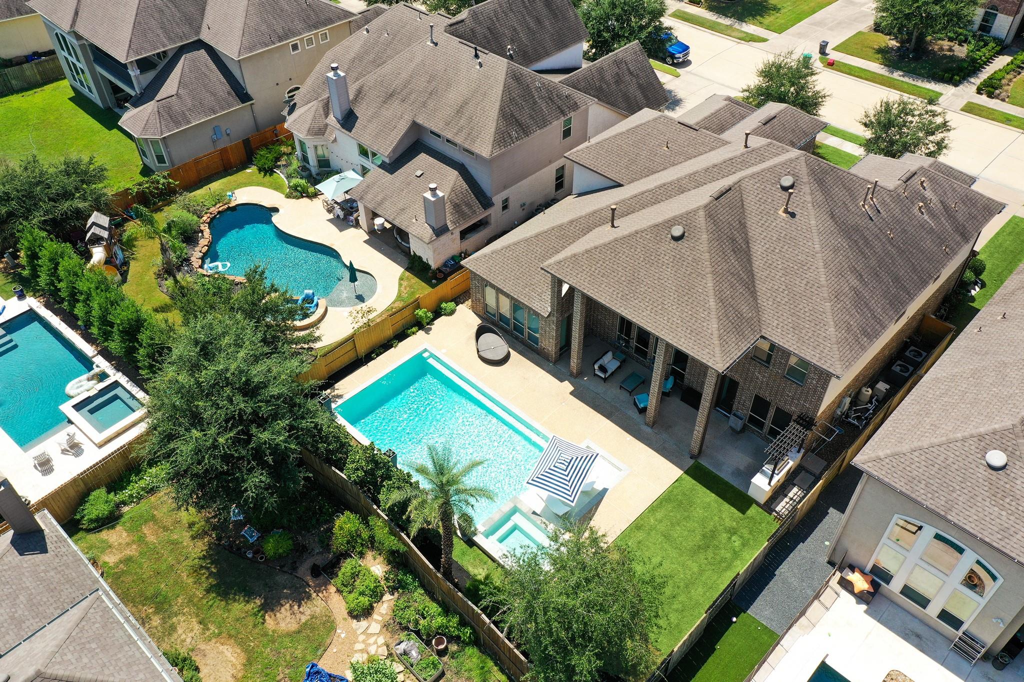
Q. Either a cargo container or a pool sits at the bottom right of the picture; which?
pool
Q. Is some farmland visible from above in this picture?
No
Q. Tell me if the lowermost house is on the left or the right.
left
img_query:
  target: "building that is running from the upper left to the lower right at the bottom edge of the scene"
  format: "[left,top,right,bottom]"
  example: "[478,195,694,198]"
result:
[0,466,177,682]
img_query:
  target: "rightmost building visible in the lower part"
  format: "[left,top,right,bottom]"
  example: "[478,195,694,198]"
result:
[824,261,1024,659]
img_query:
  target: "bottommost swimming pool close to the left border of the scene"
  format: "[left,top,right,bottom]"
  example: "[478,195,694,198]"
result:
[0,294,165,453]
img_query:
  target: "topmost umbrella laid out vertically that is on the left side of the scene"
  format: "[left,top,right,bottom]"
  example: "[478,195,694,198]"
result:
[346,254,358,293]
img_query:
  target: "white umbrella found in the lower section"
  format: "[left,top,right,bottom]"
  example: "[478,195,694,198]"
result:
[527,436,598,506]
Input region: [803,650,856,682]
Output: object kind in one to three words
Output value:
swimming pool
